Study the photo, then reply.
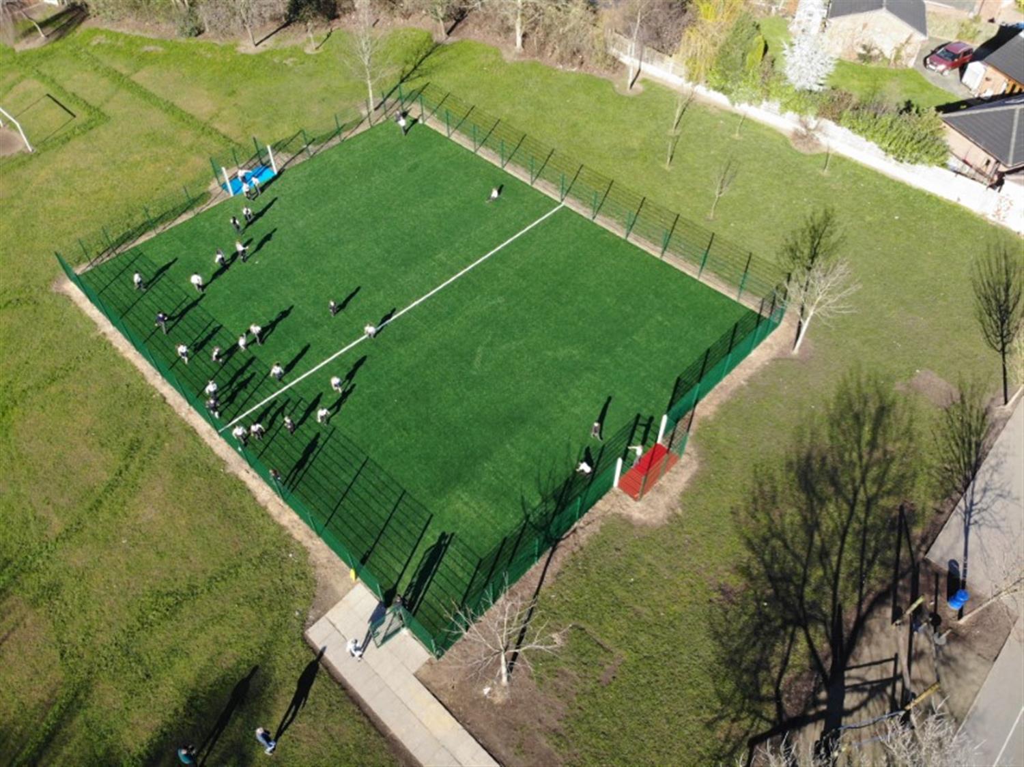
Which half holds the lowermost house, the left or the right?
right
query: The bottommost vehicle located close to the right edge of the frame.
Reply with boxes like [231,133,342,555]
[929,36,981,77]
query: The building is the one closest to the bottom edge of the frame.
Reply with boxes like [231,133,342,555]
[932,97,1024,194]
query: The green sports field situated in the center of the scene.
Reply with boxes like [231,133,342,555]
[73,110,779,662]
